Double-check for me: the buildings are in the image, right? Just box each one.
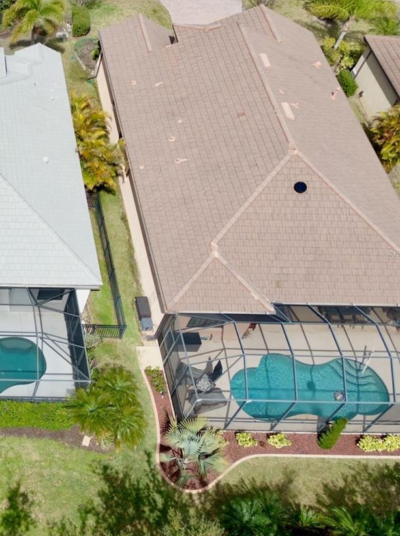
[353,33,400,135]
[0,42,103,311]
[86,1,400,335]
